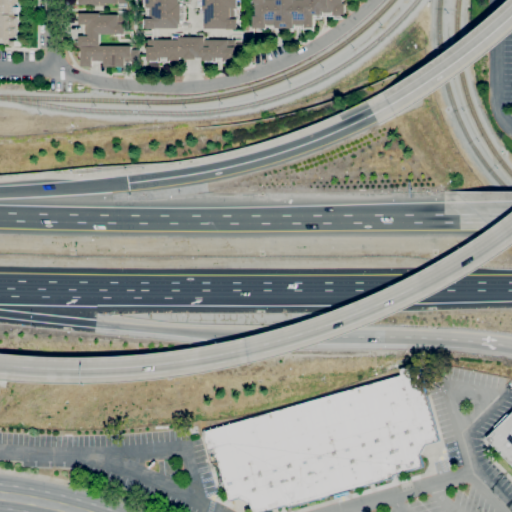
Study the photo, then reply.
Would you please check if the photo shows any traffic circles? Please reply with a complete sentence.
No, I find no traffic circle anywhere in the image.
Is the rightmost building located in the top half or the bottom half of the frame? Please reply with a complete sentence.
It is in the bottom half that the rightmost building appears.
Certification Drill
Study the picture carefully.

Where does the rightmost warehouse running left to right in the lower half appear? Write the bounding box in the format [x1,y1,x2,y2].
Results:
[203,371,438,512]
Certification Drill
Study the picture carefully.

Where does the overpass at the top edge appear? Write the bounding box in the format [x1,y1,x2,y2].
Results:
[366,0,512,126]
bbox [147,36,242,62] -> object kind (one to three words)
house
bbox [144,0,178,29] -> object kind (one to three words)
house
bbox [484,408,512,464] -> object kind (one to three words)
building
